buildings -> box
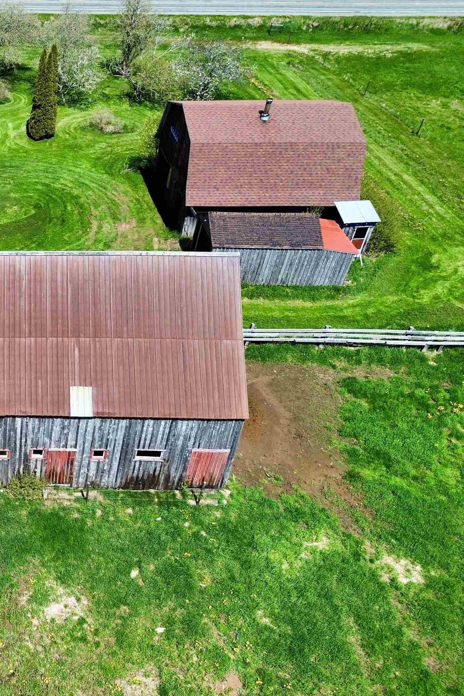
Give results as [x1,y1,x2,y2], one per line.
[0,249,253,492]
[159,89,366,237]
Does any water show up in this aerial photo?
No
